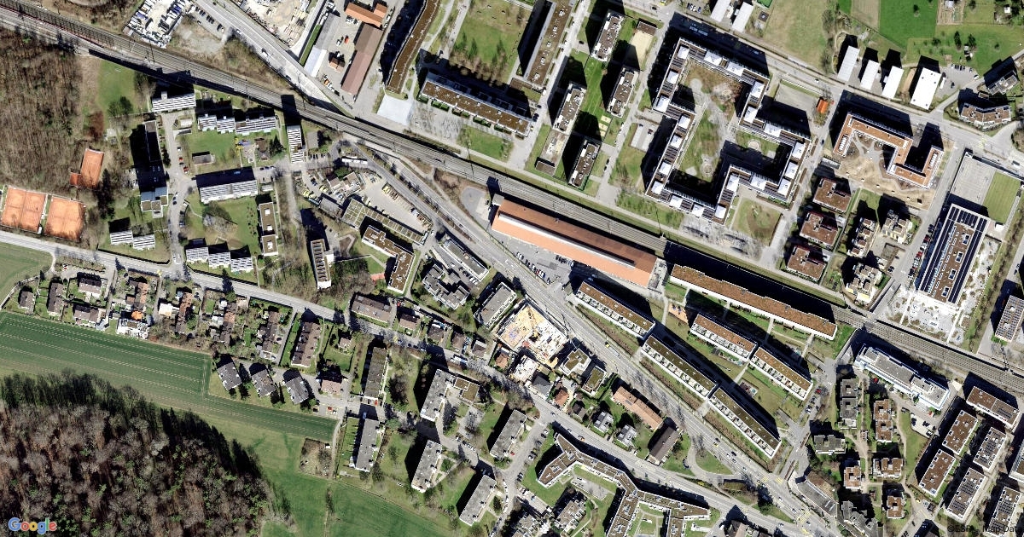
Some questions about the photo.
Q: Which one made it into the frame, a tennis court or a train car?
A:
tennis court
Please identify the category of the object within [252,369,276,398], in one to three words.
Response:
house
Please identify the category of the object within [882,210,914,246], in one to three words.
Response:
building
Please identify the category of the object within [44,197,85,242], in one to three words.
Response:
tennis court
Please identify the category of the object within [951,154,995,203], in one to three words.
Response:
sports court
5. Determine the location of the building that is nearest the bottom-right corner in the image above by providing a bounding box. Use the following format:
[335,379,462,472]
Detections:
[988,487,1022,537]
